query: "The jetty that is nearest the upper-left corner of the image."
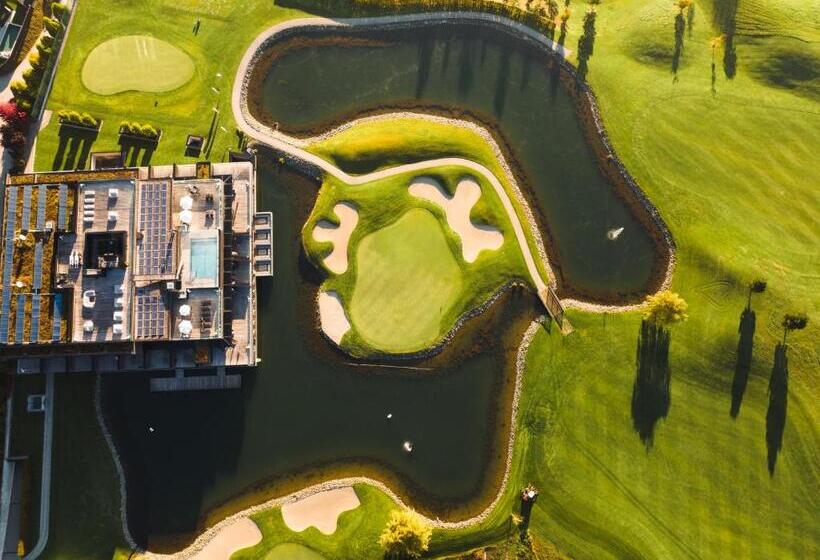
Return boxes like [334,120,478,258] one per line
[255,212,274,280]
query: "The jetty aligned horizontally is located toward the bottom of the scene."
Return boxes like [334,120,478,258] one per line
[151,366,241,392]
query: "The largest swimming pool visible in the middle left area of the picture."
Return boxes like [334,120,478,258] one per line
[181,229,220,291]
